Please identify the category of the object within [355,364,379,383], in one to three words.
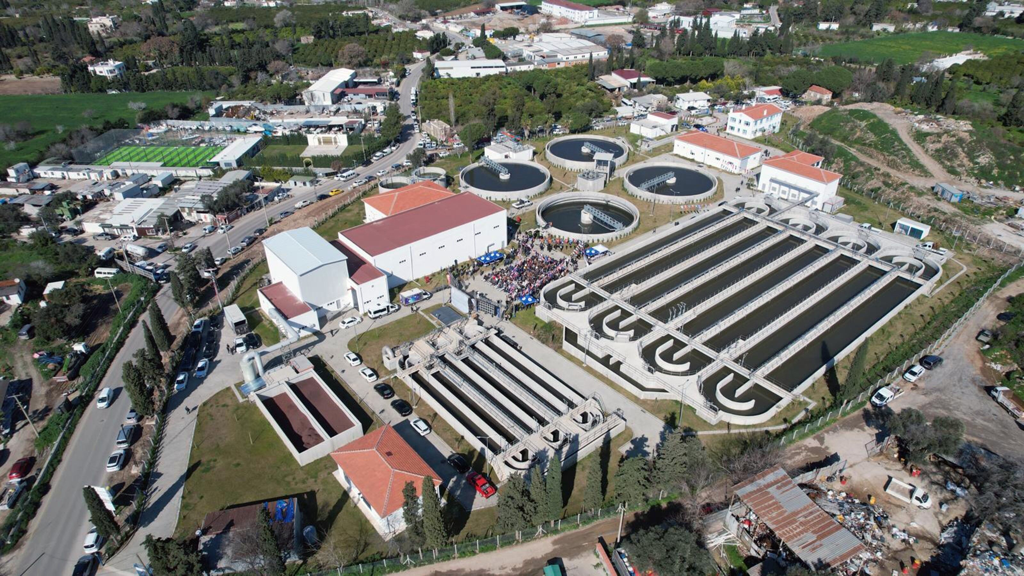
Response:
car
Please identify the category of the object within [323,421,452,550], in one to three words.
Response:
house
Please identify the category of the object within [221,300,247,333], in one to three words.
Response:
truck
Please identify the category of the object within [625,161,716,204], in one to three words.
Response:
storage tank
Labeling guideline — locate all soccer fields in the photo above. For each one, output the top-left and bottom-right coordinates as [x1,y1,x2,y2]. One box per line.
[92,146,220,166]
